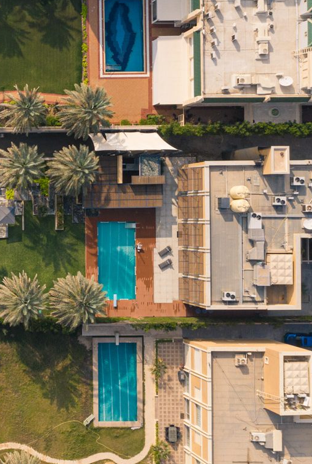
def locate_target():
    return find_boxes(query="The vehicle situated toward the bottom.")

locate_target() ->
[284,333,312,347]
